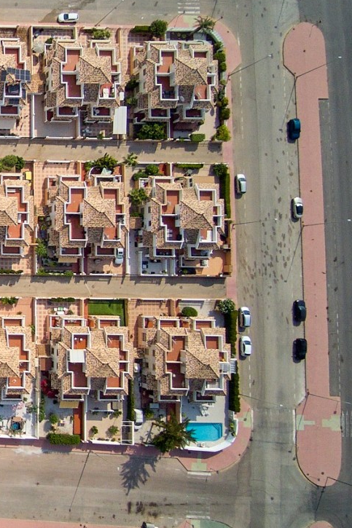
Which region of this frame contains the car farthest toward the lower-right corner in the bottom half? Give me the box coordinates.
[293,338,308,359]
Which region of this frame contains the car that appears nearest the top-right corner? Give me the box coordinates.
[287,119,302,140]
